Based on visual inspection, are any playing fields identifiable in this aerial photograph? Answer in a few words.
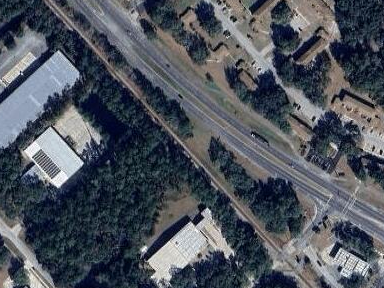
No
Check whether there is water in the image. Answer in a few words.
No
